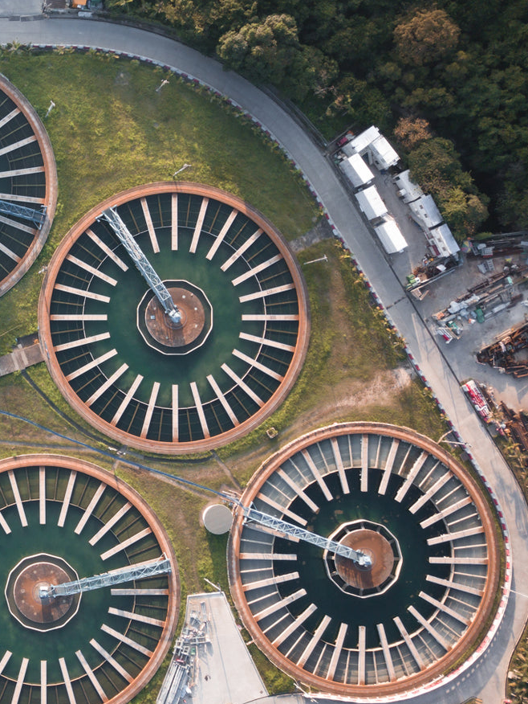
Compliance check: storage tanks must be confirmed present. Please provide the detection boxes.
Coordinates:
[0,455,181,704]
[201,503,232,533]
[37,181,309,453]
[0,74,58,296]
[227,421,505,698]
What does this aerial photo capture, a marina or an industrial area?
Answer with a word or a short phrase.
industrial area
